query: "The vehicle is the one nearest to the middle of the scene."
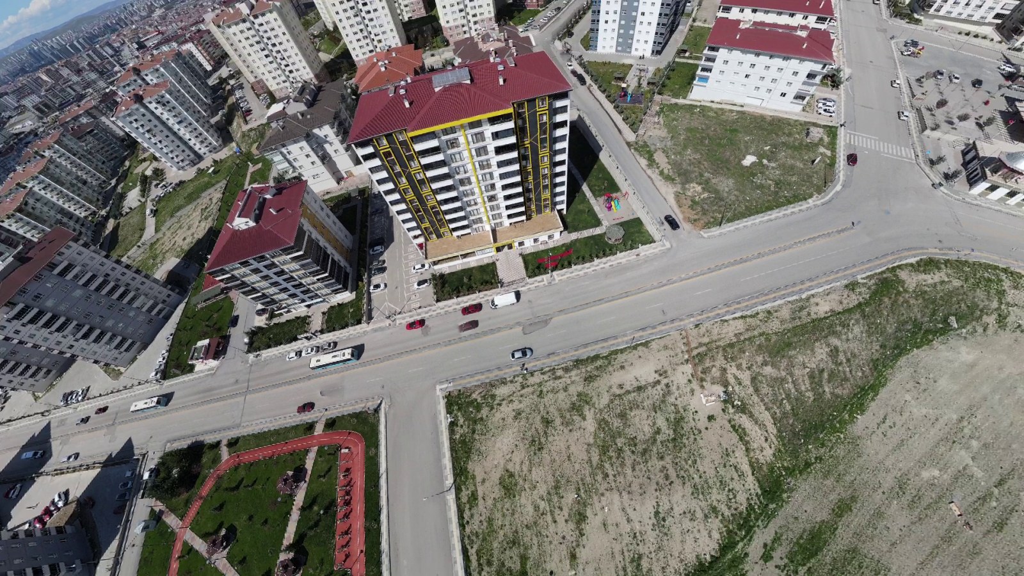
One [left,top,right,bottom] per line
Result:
[492,289,517,306]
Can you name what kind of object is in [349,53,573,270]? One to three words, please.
building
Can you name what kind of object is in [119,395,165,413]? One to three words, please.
vehicle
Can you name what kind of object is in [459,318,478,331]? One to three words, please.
vehicle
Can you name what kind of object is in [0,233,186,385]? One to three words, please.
building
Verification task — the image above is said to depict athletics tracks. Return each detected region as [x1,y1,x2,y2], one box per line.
[170,431,365,576]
